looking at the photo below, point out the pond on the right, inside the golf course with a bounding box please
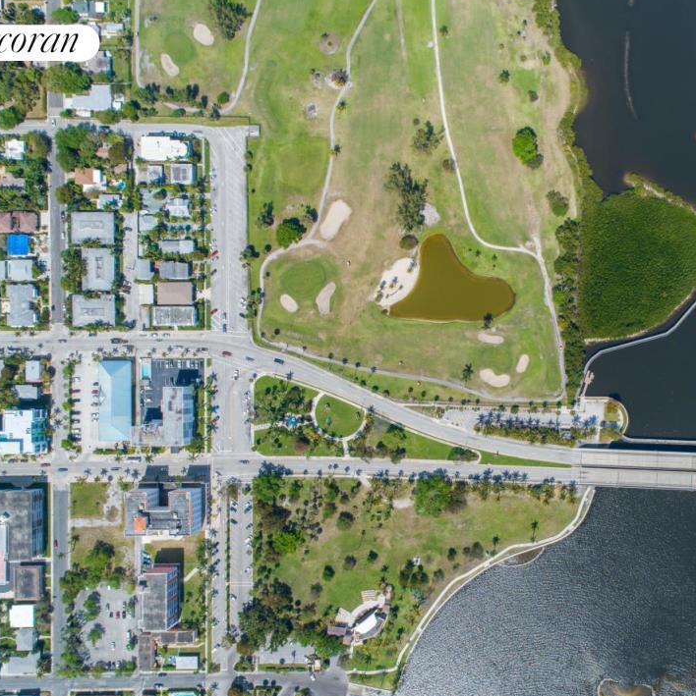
[389,234,515,321]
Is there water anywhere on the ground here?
Yes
